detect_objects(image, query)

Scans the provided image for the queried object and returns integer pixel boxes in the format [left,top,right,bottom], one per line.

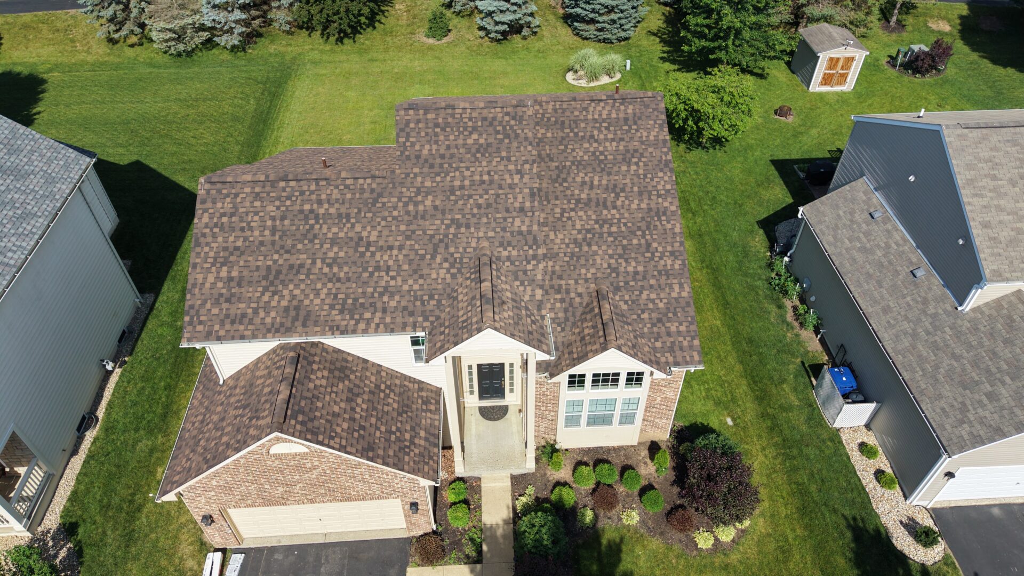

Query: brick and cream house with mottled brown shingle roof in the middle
[150,75,705,547]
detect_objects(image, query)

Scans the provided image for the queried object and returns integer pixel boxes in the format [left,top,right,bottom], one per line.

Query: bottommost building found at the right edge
[792,100,1024,509]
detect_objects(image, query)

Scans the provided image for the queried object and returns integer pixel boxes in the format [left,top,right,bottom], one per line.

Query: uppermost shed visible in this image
[793,17,871,89]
